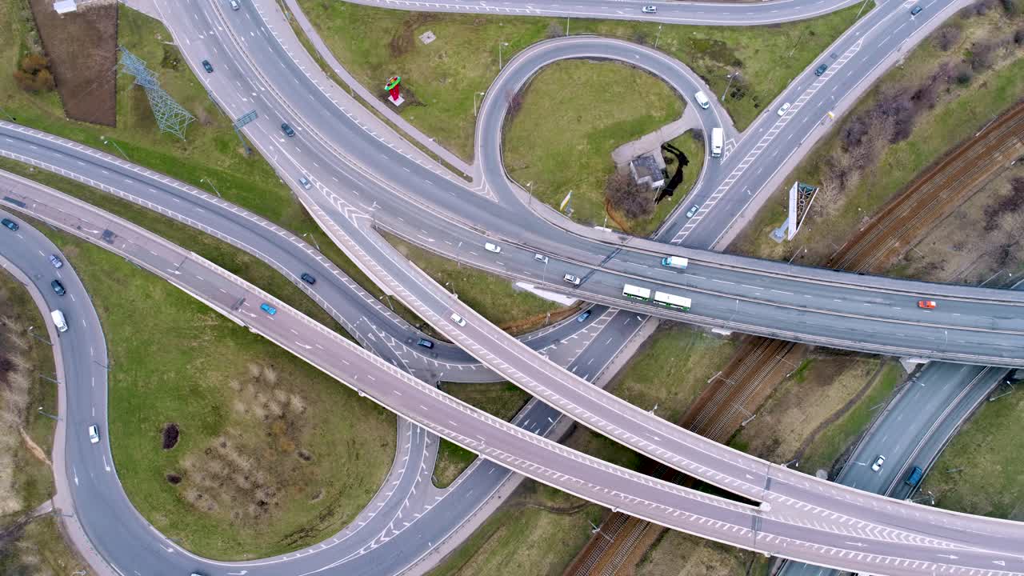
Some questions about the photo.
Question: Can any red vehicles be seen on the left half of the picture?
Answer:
No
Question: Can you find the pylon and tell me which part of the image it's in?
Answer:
top left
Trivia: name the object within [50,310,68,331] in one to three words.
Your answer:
vehicle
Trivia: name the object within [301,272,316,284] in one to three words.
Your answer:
vehicle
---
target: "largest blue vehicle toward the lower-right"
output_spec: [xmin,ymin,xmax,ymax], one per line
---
[904,466,922,487]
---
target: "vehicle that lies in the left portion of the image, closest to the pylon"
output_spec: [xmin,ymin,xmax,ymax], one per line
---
[1,218,18,230]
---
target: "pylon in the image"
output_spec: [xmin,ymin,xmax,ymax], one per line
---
[0,47,198,201]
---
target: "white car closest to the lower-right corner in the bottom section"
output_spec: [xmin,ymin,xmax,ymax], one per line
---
[870,454,885,472]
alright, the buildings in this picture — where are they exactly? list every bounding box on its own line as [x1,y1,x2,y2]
[631,155,663,192]
[54,0,81,20]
